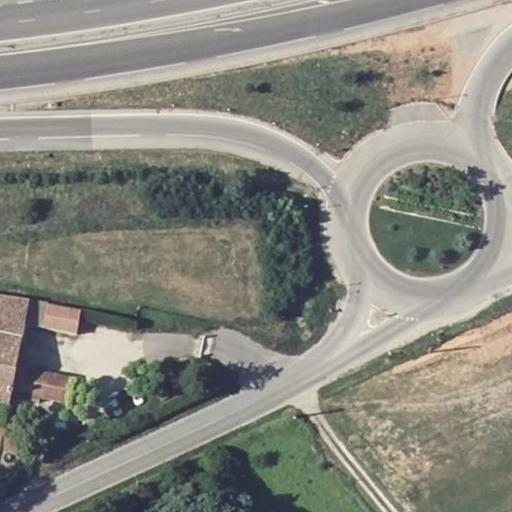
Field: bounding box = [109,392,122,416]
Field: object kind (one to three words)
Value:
vehicle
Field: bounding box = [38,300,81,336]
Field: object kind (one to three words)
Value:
shed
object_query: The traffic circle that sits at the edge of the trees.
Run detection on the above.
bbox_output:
[322,112,512,368]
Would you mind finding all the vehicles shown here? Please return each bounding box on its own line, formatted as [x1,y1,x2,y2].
[133,390,144,405]
[109,392,122,416]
